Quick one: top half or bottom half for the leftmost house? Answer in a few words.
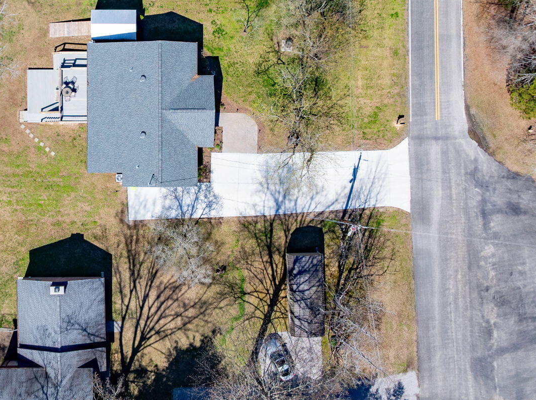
bottom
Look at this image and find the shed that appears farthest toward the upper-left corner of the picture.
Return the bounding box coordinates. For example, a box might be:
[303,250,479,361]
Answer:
[91,10,136,41]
